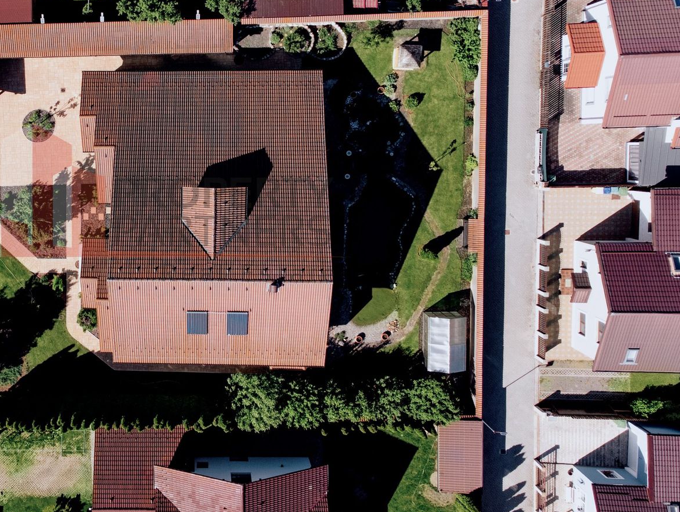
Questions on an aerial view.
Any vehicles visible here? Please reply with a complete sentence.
No, there appears to be no vehicle in this shot.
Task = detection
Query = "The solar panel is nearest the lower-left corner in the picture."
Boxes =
[187,312,208,336]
